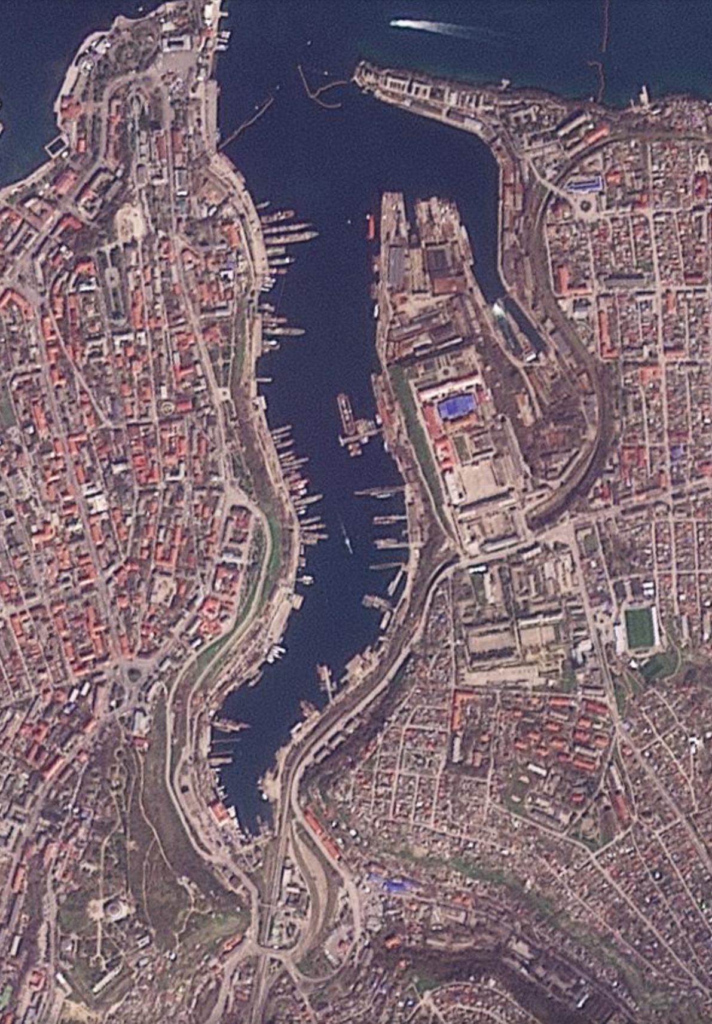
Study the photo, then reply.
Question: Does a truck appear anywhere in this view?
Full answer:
No, this view has no truck in it.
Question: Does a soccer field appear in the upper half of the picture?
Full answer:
No, looking in the upper half of the picture, there is no soccer field.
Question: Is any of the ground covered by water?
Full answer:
Yes, there is water in the image.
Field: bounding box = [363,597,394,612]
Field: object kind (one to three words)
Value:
ship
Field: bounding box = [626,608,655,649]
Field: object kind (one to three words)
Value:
soccer field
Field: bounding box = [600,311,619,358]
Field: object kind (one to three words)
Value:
building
